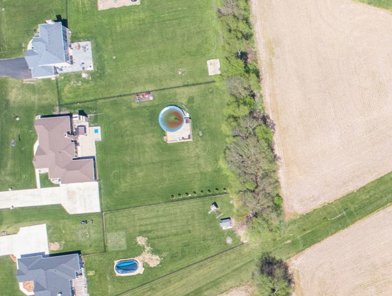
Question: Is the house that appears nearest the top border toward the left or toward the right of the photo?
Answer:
left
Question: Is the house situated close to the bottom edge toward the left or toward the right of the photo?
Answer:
left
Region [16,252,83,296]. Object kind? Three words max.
house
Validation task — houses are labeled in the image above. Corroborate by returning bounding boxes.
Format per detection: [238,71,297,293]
[16,252,83,296]
[34,116,98,184]
[26,18,73,78]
